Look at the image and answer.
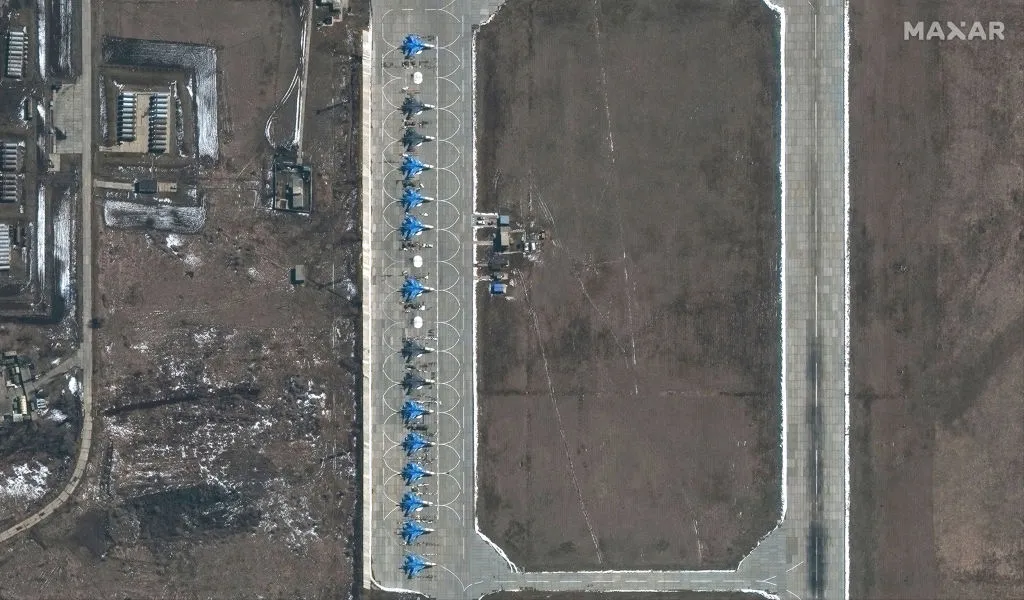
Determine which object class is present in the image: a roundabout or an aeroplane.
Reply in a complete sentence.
There is an aeroplane in the scene.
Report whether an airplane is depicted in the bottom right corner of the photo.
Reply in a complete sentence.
No, I see no airplane in the bottom right corner of the photo.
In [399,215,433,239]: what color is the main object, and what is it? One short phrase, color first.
blue airplane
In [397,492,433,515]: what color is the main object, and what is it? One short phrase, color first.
blue airplane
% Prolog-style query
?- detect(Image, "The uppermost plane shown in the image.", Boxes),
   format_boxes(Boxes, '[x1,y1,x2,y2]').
[397,34,434,58]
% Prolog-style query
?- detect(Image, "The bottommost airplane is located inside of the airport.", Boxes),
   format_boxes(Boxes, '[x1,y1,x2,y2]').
[403,553,436,577]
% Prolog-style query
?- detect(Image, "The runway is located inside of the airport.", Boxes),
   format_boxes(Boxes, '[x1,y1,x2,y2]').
[784,0,846,600]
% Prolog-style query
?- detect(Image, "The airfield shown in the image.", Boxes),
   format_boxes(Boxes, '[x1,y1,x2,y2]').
[371,0,846,600]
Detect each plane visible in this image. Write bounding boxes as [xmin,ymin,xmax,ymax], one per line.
[400,462,435,485]
[400,399,433,423]
[399,215,433,239]
[398,338,435,362]
[397,492,433,515]
[398,126,435,150]
[398,519,435,543]
[399,277,434,301]
[399,94,434,118]
[399,370,435,394]
[397,187,433,211]
[403,553,436,577]
[399,155,434,178]
[397,34,434,58]
[401,432,436,455]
